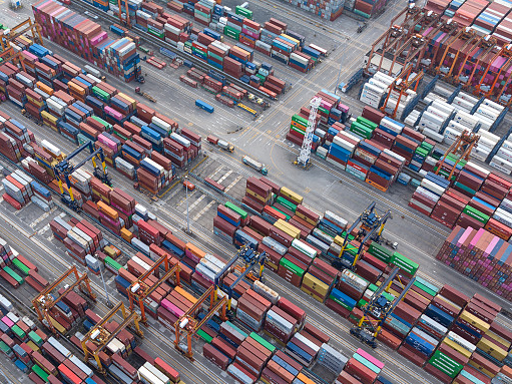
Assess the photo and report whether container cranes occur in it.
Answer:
Yes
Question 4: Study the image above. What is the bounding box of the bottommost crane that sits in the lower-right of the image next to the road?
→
[349,268,417,348]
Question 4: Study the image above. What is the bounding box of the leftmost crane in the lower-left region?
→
[30,264,99,337]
